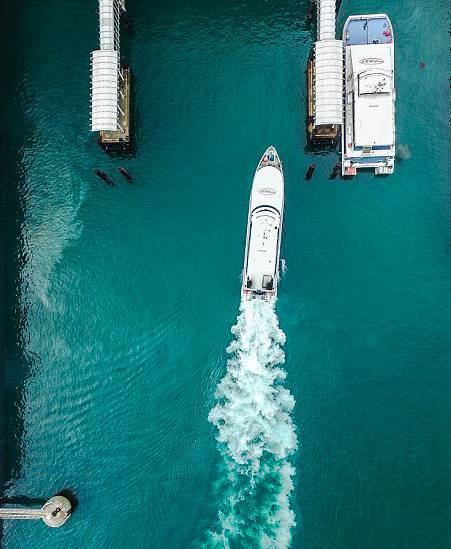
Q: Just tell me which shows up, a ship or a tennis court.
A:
ship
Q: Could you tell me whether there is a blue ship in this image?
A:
No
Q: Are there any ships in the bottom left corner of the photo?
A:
No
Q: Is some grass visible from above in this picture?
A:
No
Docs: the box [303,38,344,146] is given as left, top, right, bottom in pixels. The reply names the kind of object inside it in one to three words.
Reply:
pier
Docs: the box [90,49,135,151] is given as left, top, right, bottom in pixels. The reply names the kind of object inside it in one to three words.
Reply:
pier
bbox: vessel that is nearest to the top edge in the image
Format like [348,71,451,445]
[337,10,396,178]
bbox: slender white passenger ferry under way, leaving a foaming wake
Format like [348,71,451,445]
[241,145,284,301]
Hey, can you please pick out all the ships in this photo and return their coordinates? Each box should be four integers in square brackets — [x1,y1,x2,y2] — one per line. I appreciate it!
[241,145,284,301]
[337,10,396,178]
